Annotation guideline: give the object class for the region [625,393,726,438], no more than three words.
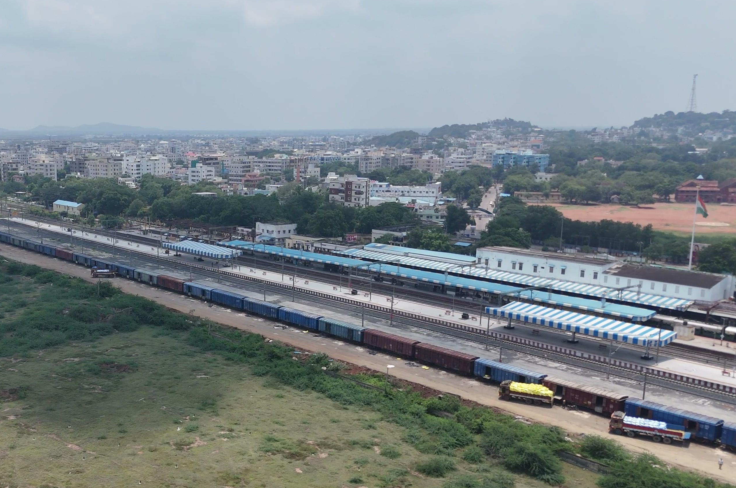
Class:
rail car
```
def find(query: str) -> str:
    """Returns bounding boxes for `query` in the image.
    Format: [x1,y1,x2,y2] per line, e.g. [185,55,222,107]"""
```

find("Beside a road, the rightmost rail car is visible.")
[720,417,736,447]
